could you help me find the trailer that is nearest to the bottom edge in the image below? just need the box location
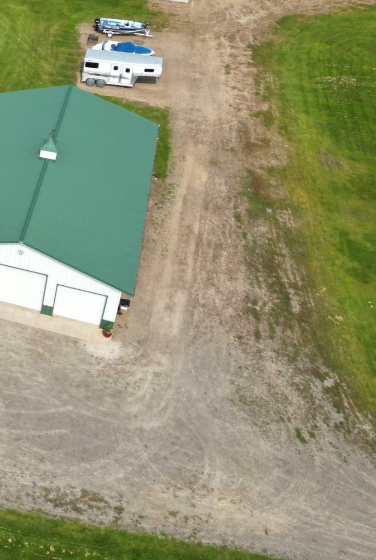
[81,47,162,89]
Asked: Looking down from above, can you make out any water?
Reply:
No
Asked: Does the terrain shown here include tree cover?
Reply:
No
